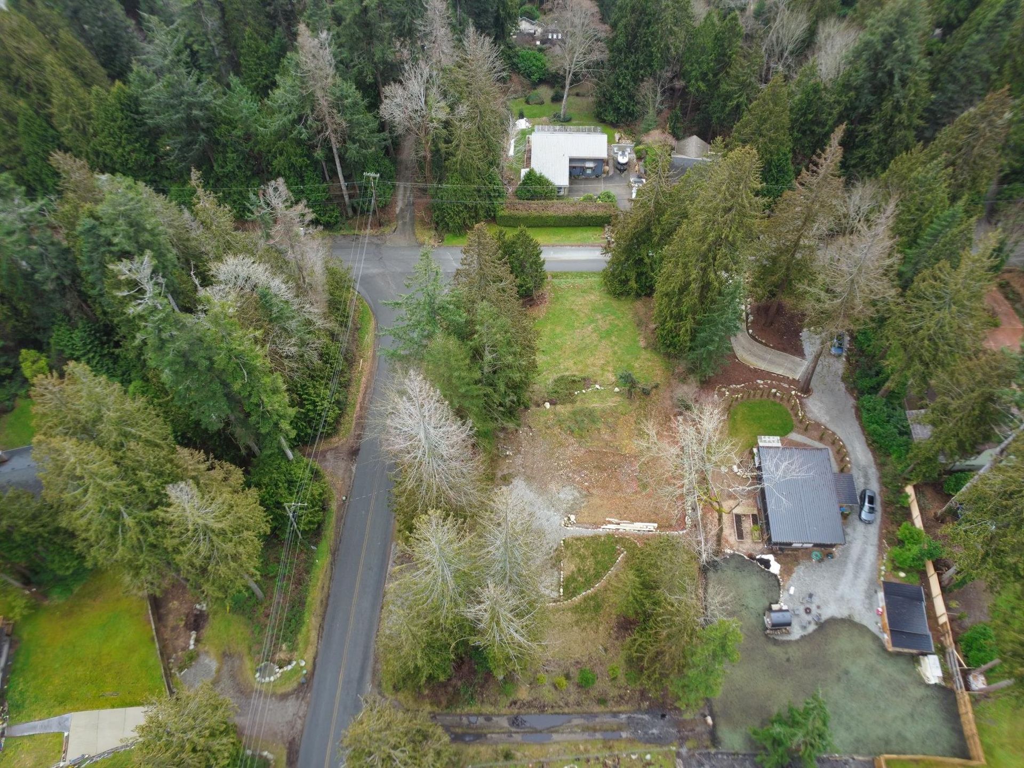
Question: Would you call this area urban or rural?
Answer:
rural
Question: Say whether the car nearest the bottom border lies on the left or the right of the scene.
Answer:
right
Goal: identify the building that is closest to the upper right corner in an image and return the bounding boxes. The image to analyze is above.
[676,135,710,161]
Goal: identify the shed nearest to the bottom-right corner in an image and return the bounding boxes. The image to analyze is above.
[875,581,936,655]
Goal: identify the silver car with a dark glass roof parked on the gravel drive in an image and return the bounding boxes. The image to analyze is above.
[857,489,879,526]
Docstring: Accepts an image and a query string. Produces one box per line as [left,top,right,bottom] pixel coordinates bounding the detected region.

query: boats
[615,139,630,169]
